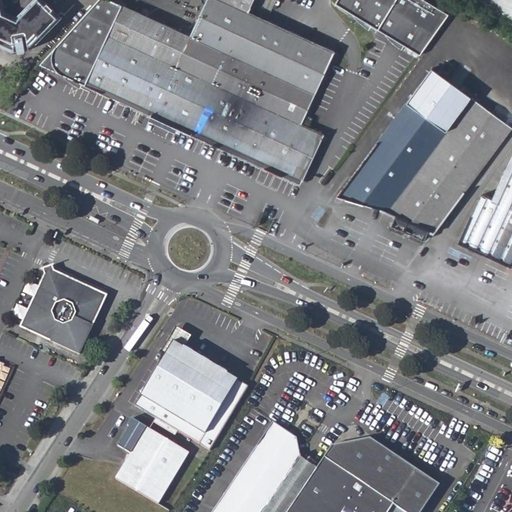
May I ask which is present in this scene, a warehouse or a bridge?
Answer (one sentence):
Looking from above, you can make out a warehouse.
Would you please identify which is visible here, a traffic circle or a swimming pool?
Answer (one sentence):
It is a traffic circle that can be seen here.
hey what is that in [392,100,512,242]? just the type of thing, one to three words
warehouse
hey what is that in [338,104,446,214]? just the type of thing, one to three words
building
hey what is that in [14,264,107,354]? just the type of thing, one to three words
building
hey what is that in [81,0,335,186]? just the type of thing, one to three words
warehouse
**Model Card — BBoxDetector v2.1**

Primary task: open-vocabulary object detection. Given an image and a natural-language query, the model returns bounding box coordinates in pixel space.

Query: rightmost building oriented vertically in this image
[460,142,512,266]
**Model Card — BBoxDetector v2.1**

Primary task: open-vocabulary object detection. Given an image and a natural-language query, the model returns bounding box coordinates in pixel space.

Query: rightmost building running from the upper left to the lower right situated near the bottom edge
[326,438,440,512]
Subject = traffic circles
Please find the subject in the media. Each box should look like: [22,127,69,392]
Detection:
[165,222,214,272]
